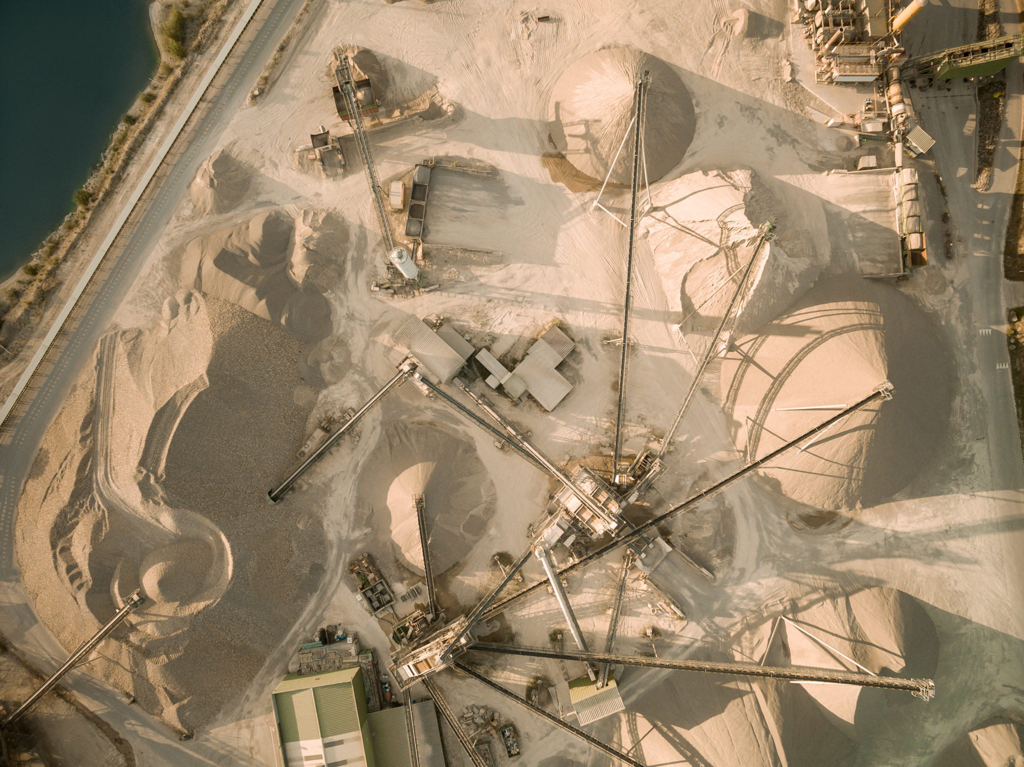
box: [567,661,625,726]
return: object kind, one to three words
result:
shed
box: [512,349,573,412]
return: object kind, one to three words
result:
building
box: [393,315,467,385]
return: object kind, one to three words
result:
building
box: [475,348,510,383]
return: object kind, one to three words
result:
shed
